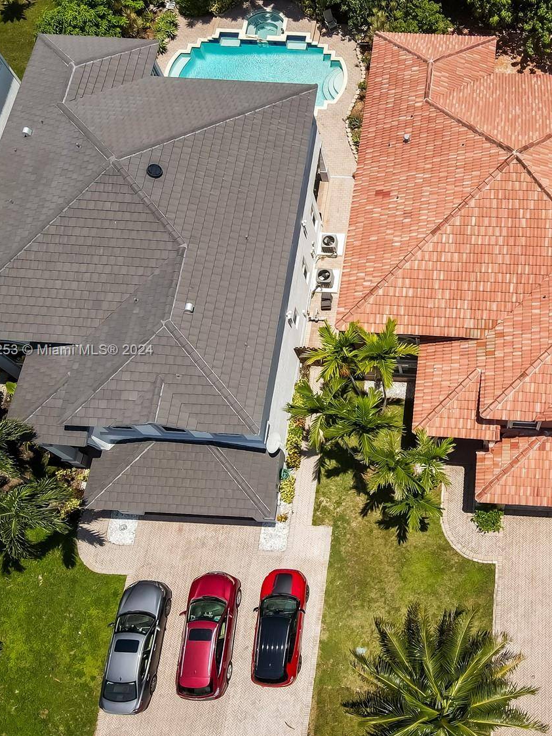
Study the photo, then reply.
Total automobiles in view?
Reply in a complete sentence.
Looking from above, you can make out 3 automobiles.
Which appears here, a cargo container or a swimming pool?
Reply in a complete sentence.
Looking from above, you can make out a swimming pool.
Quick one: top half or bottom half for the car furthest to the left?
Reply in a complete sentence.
Seen from above, the car furthest to the left lies in the bottom half of the view.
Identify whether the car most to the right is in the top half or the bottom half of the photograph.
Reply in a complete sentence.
The bottom half of the photo is where the car most to the right is.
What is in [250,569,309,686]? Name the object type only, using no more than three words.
car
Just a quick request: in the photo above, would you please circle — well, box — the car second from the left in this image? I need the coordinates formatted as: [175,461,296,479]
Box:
[176,571,241,700]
